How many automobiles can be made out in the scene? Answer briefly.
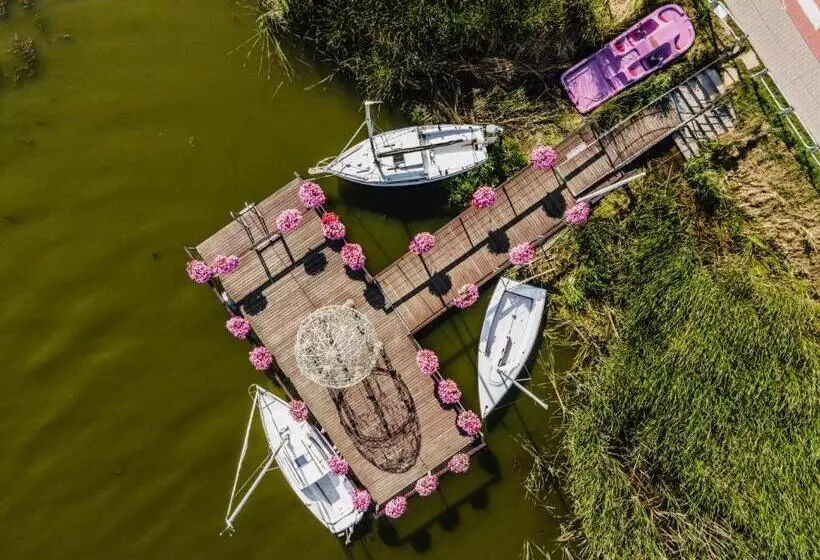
zero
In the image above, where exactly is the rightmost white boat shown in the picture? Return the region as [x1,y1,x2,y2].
[476,276,546,419]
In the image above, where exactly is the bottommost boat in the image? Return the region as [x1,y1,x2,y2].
[214,385,384,539]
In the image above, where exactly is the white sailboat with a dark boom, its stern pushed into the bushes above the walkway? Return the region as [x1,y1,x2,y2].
[298,99,502,187]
